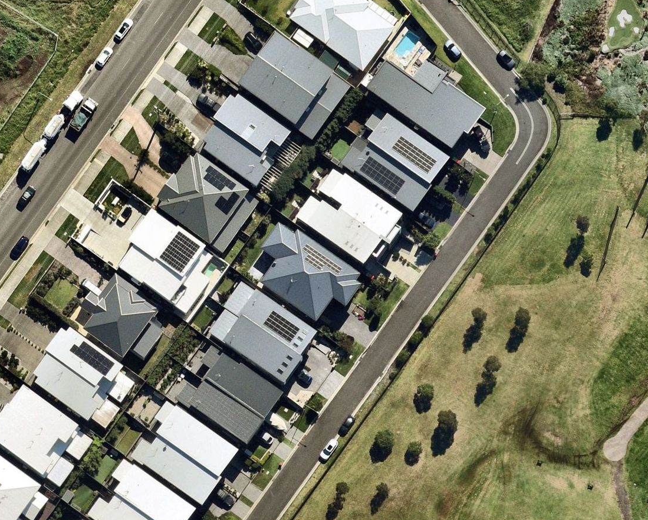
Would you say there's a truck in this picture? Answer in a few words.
Yes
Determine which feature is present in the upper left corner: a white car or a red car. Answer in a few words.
white car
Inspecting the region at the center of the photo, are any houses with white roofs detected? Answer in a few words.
Yes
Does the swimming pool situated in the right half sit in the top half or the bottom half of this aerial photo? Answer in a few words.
top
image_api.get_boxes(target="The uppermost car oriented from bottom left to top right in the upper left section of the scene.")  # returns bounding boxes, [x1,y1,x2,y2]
[113,18,133,42]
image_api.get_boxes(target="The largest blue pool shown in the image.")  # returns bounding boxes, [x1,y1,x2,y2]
[391,29,422,60]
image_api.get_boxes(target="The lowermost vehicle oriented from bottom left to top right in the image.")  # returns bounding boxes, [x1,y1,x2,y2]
[316,437,341,464]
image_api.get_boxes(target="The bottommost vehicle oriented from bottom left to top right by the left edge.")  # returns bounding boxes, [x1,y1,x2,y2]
[9,235,30,261]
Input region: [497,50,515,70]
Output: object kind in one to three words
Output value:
car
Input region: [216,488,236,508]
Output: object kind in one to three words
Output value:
car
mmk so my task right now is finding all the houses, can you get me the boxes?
[157,154,259,251]
[360,61,485,148]
[0,384,93,487]
[130,401,238,506]
[118,208,213,313]
[290,0,397,72]
[81,273,164,361]
[202,94,291,187]
[33,326,135,428]
[175,345,284,445]
[209,281,317,383]
[87,458,197,520]
[296,169,404,264]
[239,31,351,141]
[341,111,450,211]
[260,222,362,321]
[0,456,49,520]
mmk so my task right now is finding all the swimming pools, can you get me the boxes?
[391,29,422,60]
[203,261,219,280]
